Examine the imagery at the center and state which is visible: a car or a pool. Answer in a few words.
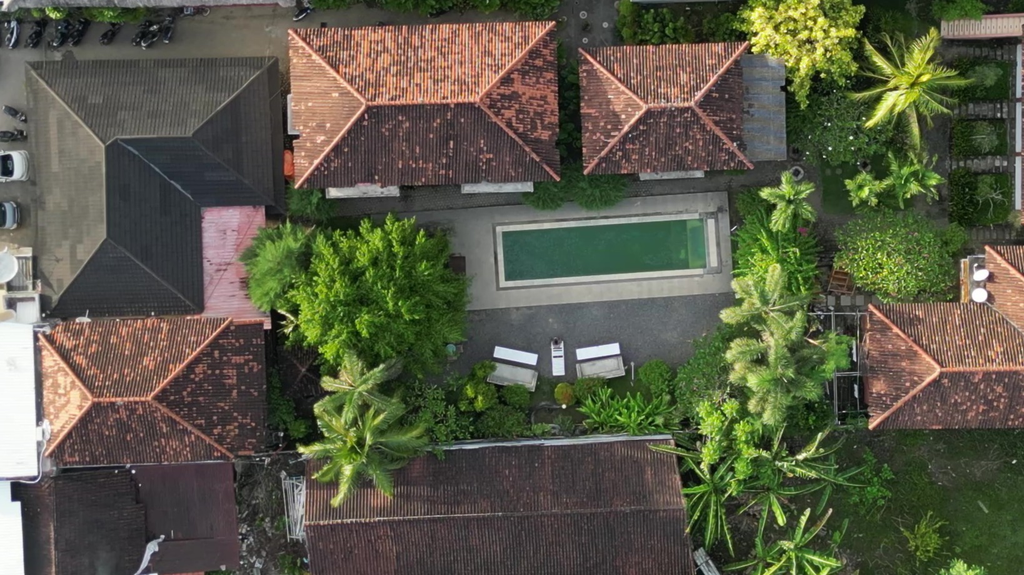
pool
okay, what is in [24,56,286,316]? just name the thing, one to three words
building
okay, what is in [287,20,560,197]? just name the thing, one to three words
house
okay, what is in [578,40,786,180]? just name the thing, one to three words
house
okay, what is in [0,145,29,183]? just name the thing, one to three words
car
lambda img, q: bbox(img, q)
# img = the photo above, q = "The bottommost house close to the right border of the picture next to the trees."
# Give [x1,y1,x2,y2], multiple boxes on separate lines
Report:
[866,245,1024,431]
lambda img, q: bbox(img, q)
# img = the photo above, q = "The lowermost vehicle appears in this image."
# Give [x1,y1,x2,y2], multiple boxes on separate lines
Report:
[0,200,23,229]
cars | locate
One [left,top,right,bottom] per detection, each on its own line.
[0,145,29,183]
[0,200,23,229]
